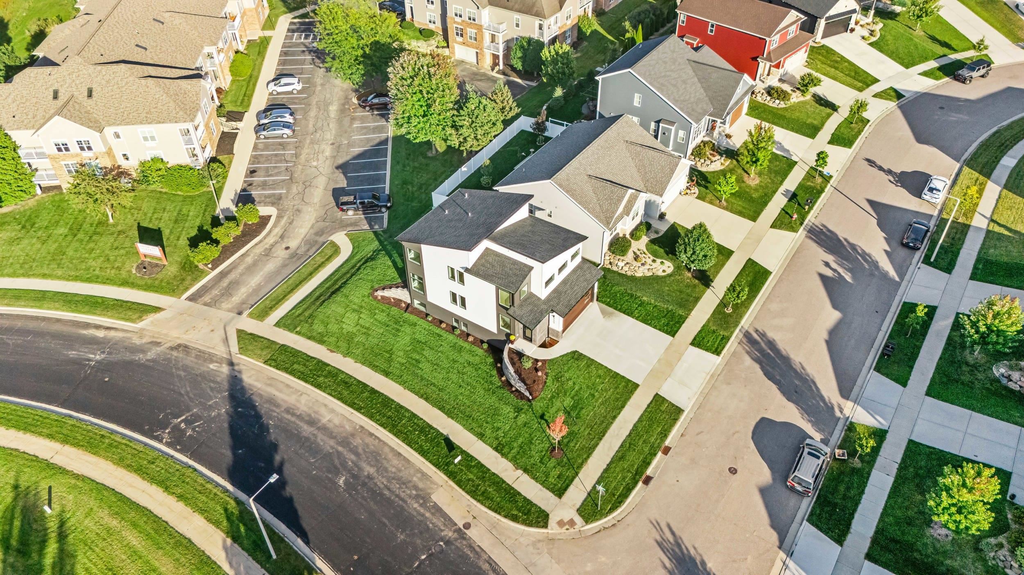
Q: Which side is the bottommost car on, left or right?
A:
right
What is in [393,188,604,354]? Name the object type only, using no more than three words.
house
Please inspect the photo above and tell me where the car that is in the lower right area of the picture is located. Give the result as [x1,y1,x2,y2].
[786,441,832,502]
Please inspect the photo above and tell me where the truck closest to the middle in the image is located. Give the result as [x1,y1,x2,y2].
[336,188,395,216]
